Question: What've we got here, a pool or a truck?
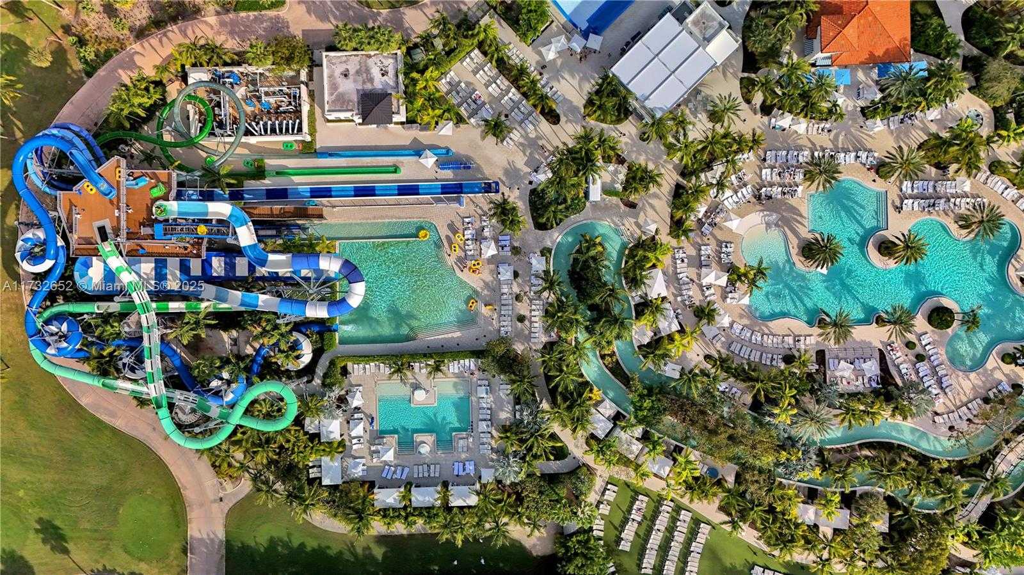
pool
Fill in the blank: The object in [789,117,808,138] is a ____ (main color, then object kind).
white umbrella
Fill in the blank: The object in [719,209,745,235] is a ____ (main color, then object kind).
white umbrella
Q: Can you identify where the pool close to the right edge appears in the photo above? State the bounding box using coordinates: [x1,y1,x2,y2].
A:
[741,178,1024,371]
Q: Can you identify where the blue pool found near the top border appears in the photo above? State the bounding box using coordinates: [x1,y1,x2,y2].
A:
[553,0,636,40]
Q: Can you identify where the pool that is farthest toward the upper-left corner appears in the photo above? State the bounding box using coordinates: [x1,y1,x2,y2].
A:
[304,221,480,344]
